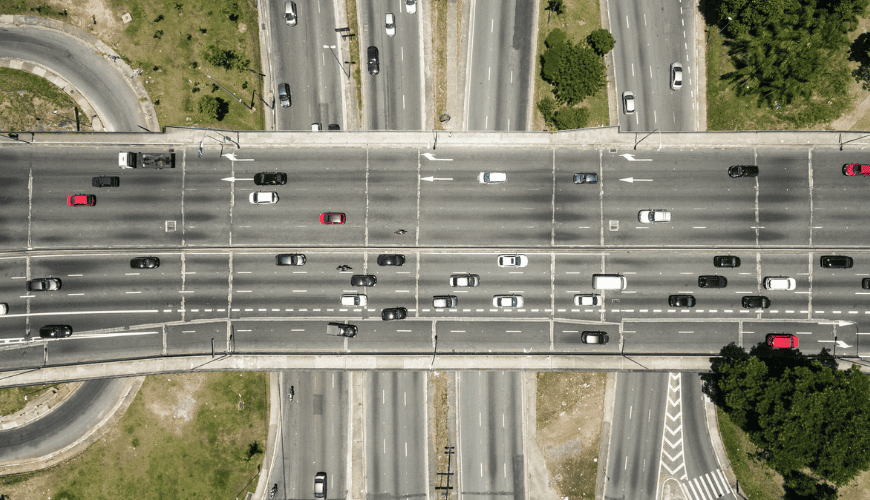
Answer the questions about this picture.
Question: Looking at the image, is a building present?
No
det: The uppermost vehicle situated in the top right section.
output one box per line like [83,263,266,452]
[669,63,684,91]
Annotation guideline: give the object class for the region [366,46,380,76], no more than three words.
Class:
vehicle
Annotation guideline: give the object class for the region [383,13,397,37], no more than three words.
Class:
vehicle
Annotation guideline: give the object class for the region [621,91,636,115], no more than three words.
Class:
car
